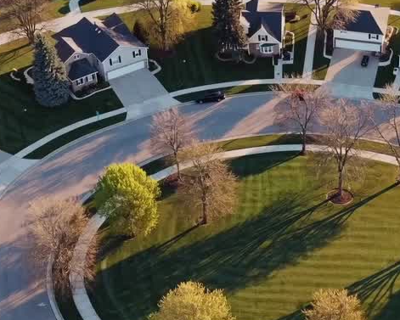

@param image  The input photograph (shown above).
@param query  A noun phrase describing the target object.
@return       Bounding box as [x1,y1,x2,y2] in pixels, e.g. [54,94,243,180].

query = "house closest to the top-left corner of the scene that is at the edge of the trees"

[51,16,150,92]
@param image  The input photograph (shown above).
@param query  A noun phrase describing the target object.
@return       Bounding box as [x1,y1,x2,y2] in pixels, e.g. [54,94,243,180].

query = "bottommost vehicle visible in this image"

[195,87,226,103]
